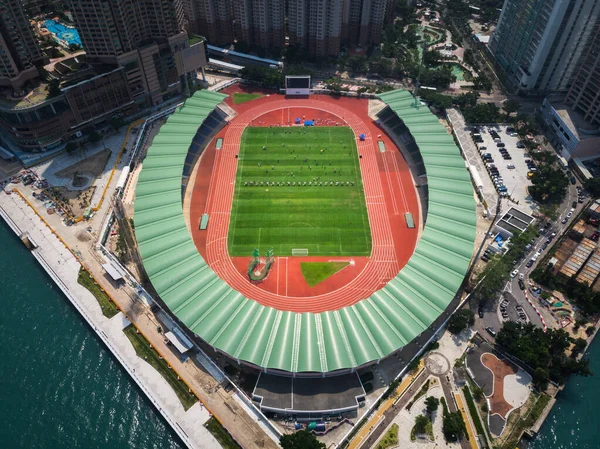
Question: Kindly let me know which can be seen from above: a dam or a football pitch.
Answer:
football pitch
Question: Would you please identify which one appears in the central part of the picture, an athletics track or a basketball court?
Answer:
athletics track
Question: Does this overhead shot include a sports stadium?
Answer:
Yes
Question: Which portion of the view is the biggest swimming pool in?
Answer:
top left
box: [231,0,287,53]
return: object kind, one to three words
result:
building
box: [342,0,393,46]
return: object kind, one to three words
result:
building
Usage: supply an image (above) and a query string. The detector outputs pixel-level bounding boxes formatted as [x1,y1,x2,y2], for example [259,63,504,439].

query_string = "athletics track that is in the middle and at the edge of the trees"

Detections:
[190,81,418,312]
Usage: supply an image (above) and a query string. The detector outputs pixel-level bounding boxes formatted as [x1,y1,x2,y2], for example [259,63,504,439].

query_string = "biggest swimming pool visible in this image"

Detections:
[44,17,80,49]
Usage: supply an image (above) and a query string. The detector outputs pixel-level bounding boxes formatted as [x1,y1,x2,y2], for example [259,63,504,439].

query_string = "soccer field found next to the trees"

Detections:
[227,125,372,257]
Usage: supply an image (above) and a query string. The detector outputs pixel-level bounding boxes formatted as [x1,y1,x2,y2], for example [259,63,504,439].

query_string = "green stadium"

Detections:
[133,88,478,377]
